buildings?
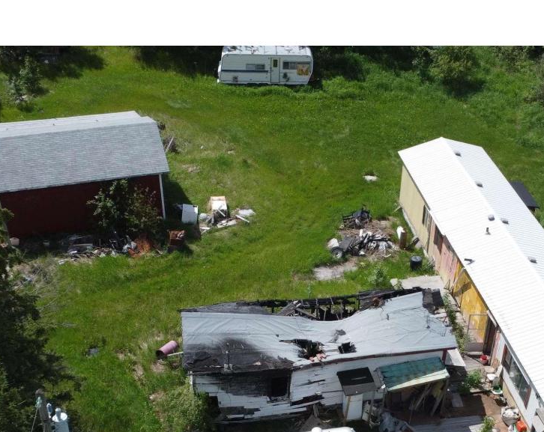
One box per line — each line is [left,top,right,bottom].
[0,111,171,242]
[398,137,544,432]
[181,287,457,421]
